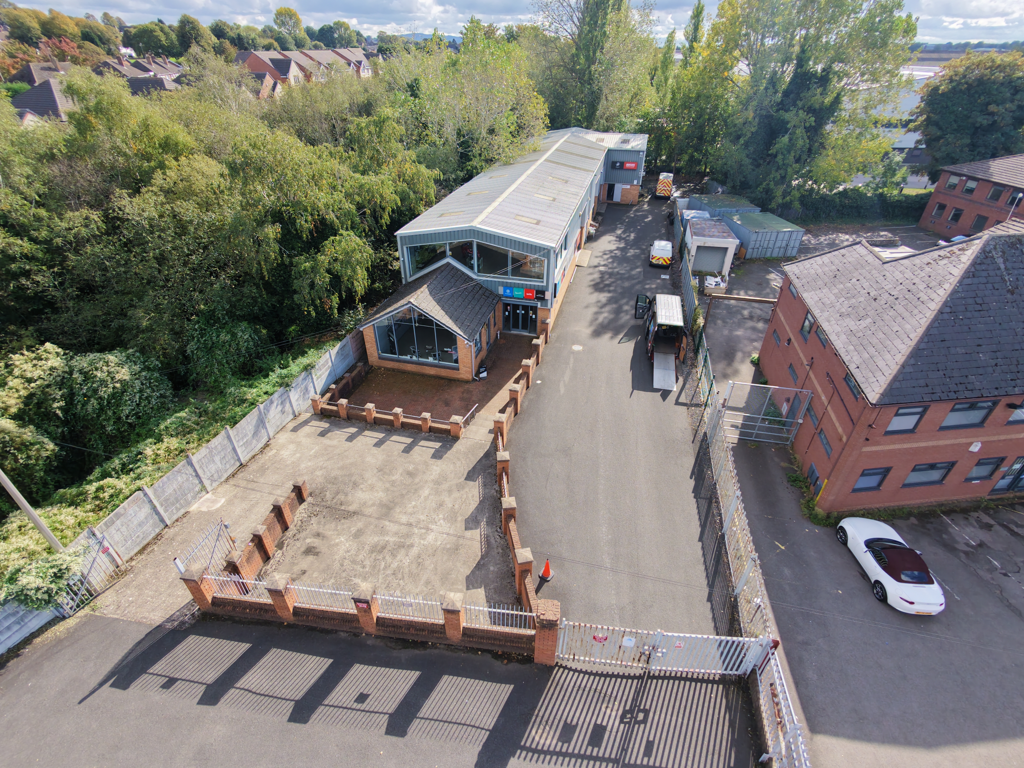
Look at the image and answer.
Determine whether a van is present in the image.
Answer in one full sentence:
Yes, a van appears in the view.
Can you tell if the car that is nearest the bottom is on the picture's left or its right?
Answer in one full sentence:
It is on the right.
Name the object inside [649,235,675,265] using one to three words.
vehicle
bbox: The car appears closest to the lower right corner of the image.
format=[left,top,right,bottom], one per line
[842,519,949,618]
